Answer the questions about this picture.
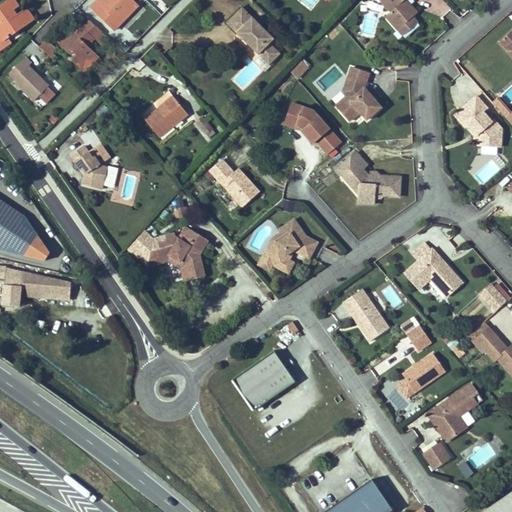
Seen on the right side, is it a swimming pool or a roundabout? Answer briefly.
swimming pool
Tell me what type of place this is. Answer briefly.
residential area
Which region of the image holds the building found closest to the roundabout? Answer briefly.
bottom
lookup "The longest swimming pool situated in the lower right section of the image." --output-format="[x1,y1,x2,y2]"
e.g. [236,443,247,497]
[459,433,504,472]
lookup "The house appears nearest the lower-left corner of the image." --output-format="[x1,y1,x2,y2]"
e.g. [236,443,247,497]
[0,269,70,309]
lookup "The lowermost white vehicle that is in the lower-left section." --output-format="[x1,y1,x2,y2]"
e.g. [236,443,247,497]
[61,474,97,504]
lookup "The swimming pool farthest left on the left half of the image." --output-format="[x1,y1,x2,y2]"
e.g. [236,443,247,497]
[111,168,140,206]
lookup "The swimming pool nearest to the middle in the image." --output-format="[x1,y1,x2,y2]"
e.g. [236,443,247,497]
[244,219,278,256]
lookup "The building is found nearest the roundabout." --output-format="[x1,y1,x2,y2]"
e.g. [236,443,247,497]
[234,352,296,410]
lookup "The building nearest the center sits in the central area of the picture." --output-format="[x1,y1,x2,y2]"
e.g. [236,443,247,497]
[258,218,319,275]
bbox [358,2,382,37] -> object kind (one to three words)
swimming pool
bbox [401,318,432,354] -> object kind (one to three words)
house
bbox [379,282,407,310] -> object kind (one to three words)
swimming pool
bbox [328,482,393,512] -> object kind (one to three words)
building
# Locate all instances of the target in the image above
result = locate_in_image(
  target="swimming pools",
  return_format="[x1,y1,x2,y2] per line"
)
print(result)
[244,219,278,256]
[497,83,512,110]
[232,56,272,90]
[468,154,507,186]
[459,433,504,472]
[379,282,407,310]
[301,0,320,10]
[358,2,382,37]
[111,168,140,206]
[312,62,346,101]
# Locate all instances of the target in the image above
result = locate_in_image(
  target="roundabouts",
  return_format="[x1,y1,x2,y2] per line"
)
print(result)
[136,356,202,422]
